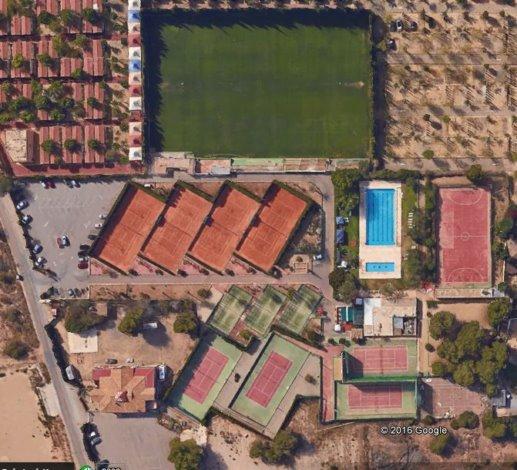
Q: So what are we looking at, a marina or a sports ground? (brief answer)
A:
sports ground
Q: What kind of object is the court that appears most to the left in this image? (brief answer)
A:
tennis court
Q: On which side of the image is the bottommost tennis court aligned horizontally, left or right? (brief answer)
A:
right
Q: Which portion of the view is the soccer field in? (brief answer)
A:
top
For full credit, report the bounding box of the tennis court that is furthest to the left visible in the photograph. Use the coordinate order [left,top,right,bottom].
[90,183,166,275]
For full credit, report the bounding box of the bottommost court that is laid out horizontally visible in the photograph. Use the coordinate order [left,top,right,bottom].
[337,382,419,420]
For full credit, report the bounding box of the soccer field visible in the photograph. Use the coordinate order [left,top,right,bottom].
[143,11,370,157]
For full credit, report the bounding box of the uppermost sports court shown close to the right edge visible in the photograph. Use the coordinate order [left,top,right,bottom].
[437,187,492,289]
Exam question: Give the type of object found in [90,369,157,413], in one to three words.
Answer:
building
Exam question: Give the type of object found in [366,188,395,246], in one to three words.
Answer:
swimming pool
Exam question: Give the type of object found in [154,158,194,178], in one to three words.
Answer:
building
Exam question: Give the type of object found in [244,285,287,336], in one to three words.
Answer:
sports court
